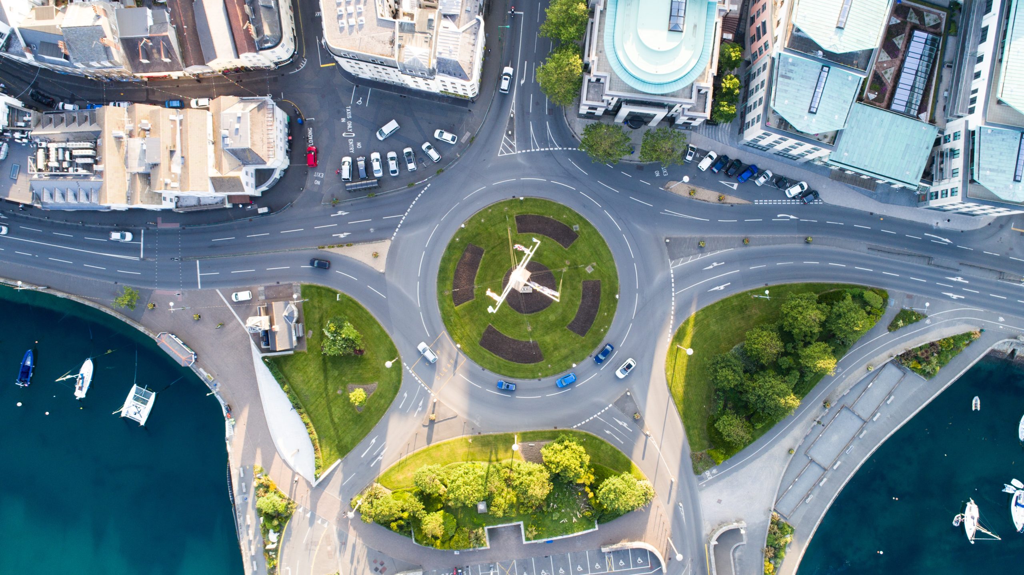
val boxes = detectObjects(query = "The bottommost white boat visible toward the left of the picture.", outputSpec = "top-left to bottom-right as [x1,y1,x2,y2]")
[114,384,156,426]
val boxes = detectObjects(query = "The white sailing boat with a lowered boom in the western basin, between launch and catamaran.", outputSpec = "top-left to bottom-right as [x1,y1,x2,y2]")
[58,359,92,399]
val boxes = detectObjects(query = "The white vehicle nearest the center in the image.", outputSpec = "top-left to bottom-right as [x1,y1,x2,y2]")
[418,340,439,364]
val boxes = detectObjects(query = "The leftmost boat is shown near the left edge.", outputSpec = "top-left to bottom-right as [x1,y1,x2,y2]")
[15,350,32,387]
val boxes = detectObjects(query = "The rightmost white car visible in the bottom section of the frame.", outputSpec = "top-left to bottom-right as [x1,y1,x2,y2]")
[615,356,636,380]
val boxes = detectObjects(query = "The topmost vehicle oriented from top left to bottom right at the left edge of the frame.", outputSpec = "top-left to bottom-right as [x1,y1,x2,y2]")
[29,88,57,109]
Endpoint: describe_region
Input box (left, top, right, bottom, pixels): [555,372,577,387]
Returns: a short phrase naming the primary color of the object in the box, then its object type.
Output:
blue car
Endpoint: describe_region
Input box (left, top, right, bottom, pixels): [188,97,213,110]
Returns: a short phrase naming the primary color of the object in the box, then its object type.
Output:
white vehicle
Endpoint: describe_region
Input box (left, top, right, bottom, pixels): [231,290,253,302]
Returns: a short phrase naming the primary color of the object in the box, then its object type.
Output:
white vehicle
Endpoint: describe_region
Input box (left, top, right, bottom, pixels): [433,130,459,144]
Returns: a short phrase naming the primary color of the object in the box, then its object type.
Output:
white car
